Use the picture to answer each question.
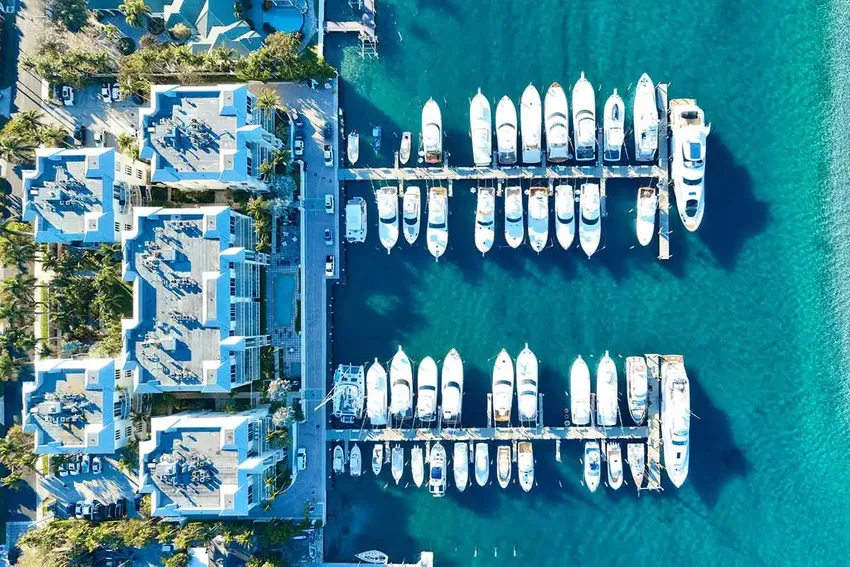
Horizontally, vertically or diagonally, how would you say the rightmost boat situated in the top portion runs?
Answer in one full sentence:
What the image shows is the rightmost boat situated in the top portion lying vertically.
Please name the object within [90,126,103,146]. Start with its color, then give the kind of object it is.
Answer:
white vehicle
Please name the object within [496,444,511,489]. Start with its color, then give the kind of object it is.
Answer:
white boat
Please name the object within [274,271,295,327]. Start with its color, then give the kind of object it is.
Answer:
blue swimming pool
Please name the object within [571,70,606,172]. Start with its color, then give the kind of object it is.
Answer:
white boat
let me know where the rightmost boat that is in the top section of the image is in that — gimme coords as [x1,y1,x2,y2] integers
[665,101,720,231]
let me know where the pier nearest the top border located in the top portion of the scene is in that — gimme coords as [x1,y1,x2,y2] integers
[325,0,375,39]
